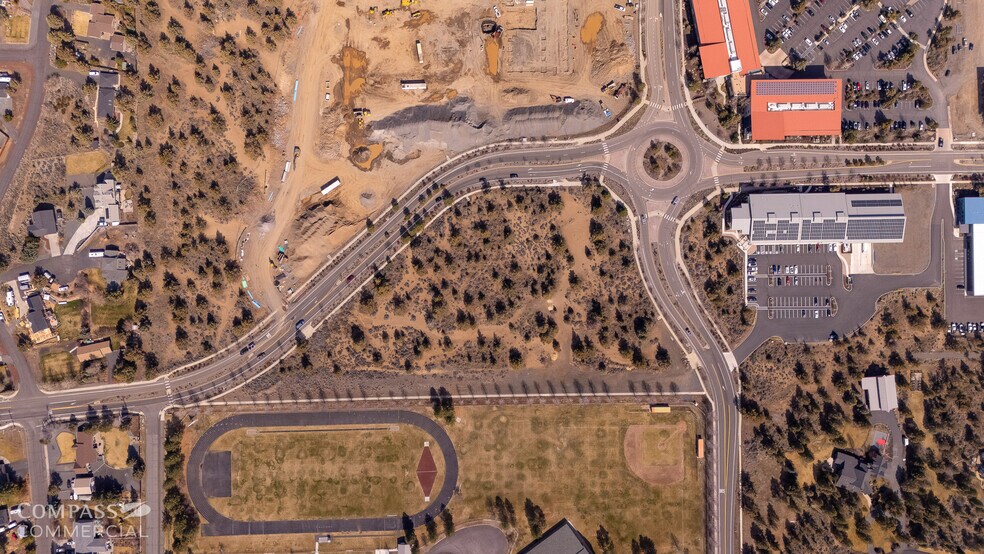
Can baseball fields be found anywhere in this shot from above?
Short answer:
Yes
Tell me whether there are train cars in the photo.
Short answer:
No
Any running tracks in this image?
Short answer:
Yes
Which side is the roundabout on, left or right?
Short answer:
right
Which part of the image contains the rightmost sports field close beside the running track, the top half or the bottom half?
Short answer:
bottom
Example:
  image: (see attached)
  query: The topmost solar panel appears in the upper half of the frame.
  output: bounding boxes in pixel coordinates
[757,82,834,94]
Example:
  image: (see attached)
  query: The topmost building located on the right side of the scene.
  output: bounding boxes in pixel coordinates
[688,0,762,83]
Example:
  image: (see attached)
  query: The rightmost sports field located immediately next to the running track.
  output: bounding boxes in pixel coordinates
[462,403,701,554]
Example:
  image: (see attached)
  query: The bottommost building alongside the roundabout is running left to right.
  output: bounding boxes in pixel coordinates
[723,190,906,244]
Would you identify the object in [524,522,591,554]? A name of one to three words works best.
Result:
building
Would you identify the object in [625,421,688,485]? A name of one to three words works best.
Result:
baseball field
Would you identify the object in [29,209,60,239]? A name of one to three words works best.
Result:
house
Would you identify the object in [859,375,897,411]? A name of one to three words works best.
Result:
barn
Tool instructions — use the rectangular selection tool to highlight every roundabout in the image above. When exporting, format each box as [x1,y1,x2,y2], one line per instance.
[601,101,743,243]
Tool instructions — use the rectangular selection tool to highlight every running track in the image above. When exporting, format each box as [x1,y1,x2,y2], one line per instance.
[186,410,458,536]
